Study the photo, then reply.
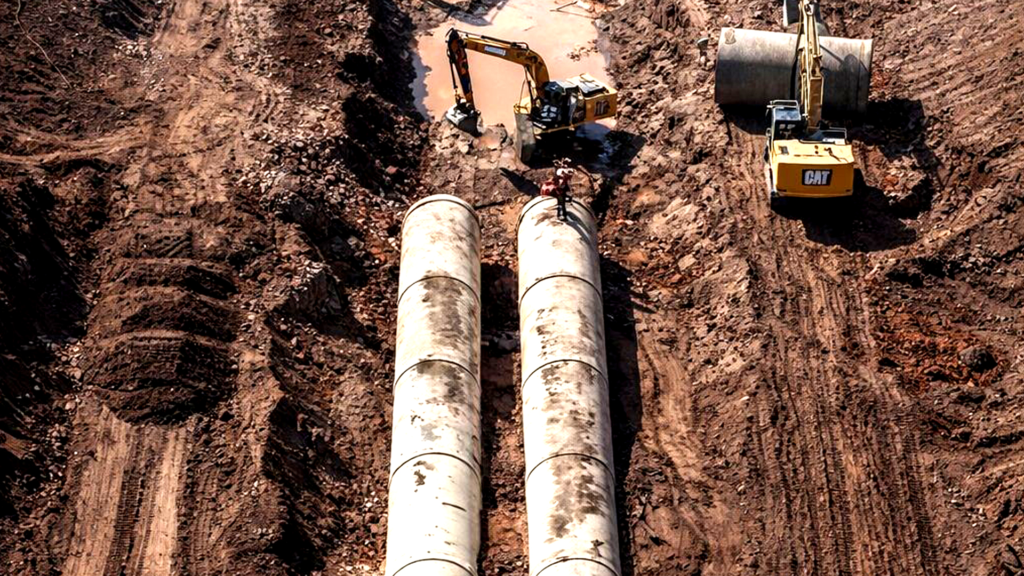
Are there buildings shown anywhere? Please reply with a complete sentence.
No, no building can be seen from above.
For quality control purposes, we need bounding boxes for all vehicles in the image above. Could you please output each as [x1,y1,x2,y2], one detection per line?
[762,0,858,209]
[450,28,622,162]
